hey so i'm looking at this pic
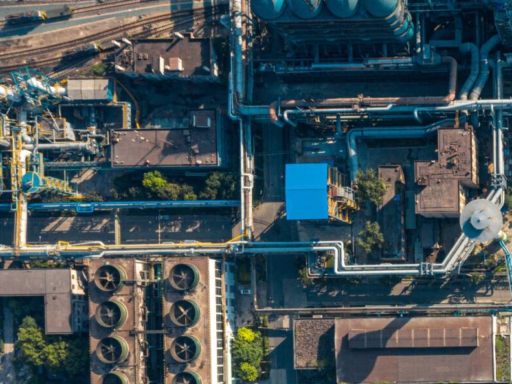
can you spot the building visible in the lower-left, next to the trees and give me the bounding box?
[0,269,89,334]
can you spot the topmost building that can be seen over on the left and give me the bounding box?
[109,30,222,82]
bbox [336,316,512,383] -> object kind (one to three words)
building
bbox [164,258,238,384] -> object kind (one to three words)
cooling tower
